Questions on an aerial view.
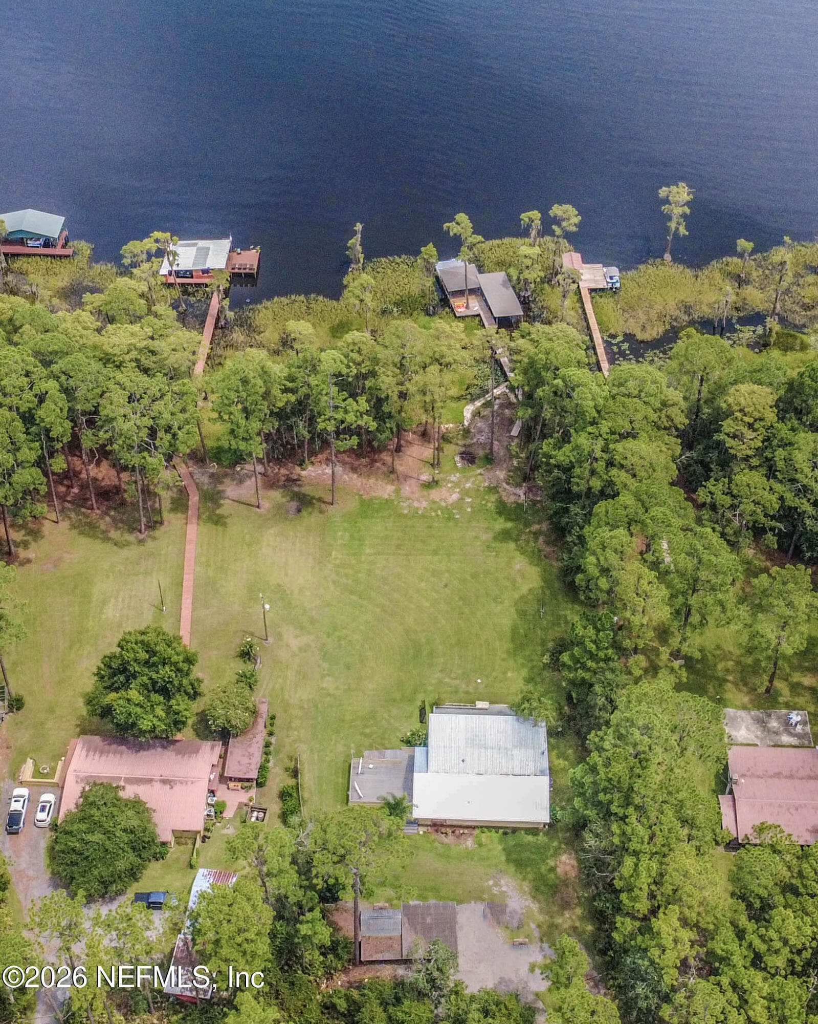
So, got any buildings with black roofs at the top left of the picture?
No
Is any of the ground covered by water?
Yes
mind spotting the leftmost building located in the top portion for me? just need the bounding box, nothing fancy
[0,211,66,257]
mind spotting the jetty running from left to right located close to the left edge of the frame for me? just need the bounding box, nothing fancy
[0,230,73,257]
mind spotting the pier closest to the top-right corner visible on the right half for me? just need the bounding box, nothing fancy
[561,264,608,293]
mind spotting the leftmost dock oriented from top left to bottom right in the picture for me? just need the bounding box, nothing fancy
[435,276,480,319]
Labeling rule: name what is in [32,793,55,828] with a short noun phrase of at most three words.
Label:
car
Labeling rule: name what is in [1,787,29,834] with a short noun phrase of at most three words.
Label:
truck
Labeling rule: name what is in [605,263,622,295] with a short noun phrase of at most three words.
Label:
boat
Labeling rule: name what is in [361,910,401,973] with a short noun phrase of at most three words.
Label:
shed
